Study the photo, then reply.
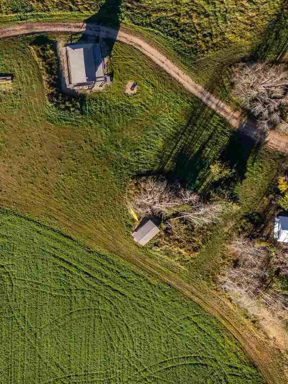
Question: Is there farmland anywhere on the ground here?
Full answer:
Yes, there is farmland in the image.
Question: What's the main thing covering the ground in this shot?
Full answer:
The bulk of the photo consists of grass.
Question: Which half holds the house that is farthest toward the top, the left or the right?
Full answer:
The house that is farthest toward the top appears in the left half of the scene.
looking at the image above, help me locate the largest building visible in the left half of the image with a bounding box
[58,41,105,92]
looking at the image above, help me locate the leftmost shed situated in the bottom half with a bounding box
[130,219,159,246]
